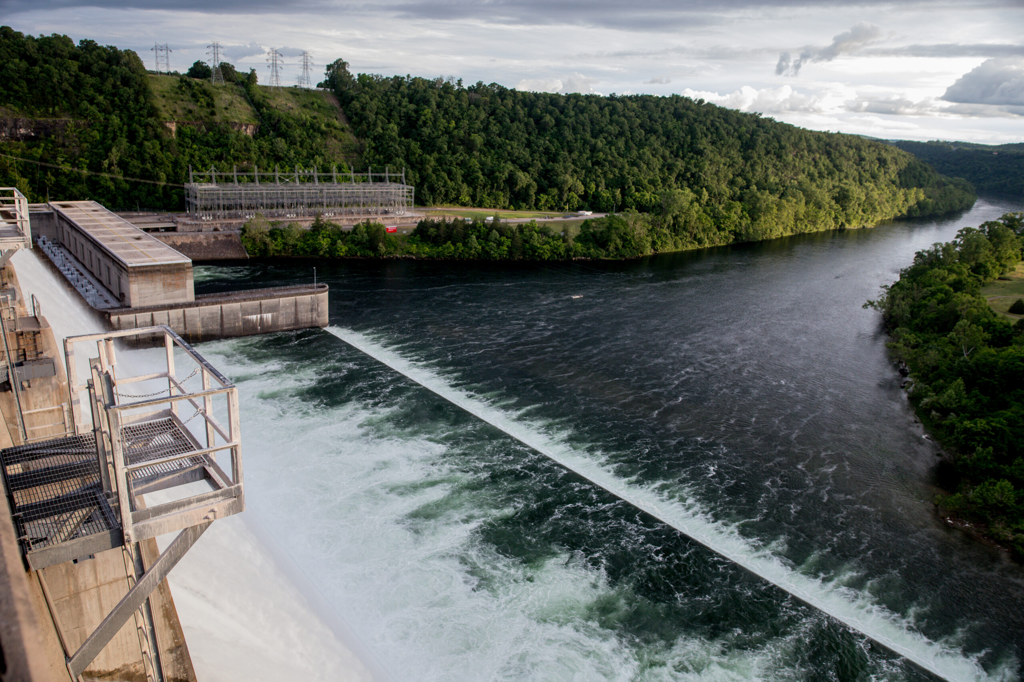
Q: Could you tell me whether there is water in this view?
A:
Yes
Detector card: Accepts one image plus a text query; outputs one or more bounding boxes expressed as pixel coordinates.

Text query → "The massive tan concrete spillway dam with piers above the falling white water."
[0,206,194,682]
